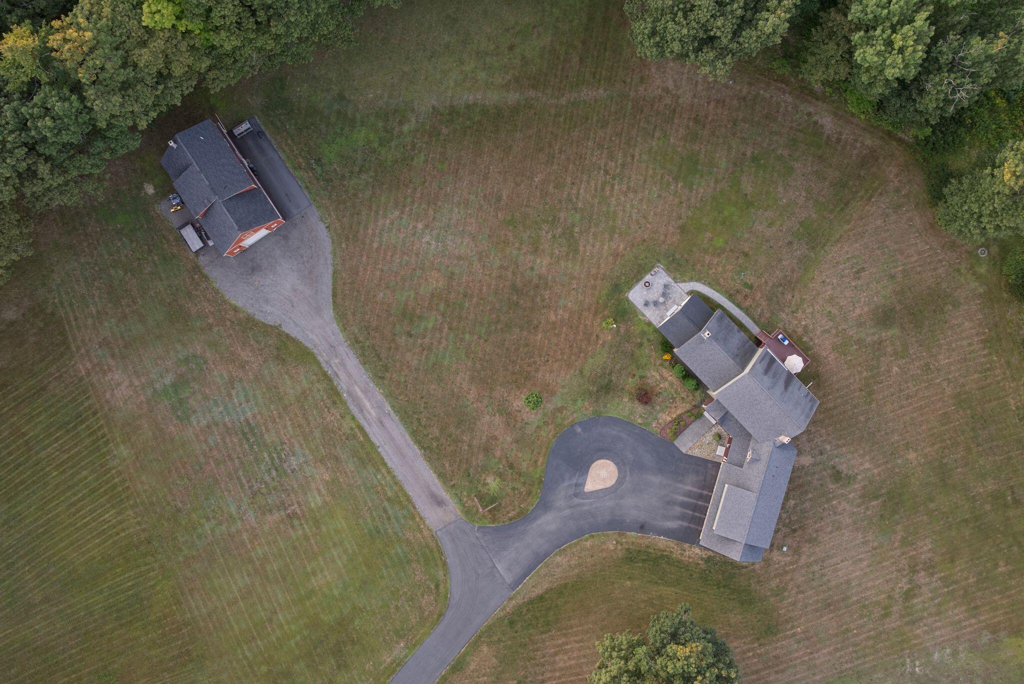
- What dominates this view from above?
grass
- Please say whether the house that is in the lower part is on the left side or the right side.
right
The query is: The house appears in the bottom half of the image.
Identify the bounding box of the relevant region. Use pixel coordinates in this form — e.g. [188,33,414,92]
[656,292,819,562]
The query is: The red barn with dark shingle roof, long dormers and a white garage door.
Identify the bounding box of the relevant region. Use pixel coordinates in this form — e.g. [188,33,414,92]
[161,119,285,257]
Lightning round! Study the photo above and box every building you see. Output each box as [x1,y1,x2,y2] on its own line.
[656,292,819,562]
[161,119,285,257]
